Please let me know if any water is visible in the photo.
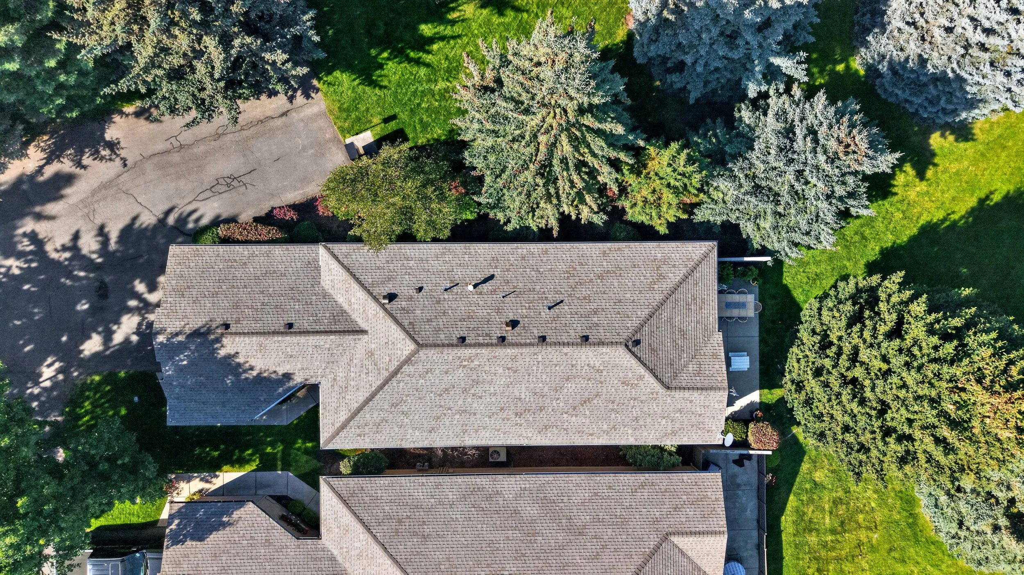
No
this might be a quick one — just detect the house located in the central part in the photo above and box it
[150,241,733,450]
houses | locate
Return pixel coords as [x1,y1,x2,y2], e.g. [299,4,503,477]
[150,241,733,450]
[153,466,730,575]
